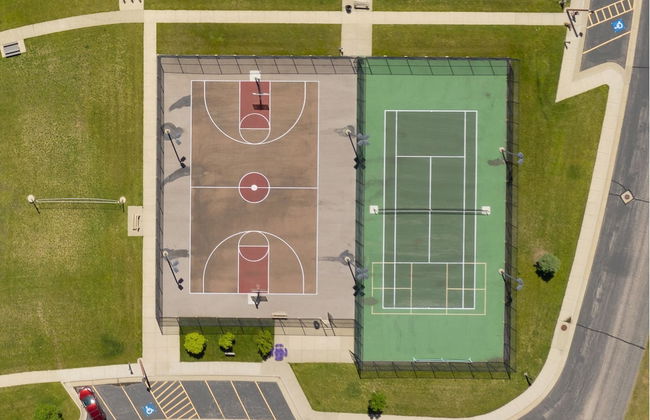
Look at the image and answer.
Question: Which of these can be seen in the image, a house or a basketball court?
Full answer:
Looking from above, you can make out a basketball court.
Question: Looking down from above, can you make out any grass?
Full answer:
Yes, the picture does contain grass.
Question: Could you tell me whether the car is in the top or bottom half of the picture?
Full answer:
You can find the car in the bottom half.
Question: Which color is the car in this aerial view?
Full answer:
The car looks red in the image.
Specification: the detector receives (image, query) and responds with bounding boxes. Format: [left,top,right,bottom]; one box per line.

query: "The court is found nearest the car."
[156,58,357,319]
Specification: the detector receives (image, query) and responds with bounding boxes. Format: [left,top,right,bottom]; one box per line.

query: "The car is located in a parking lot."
[79,385,107,420]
